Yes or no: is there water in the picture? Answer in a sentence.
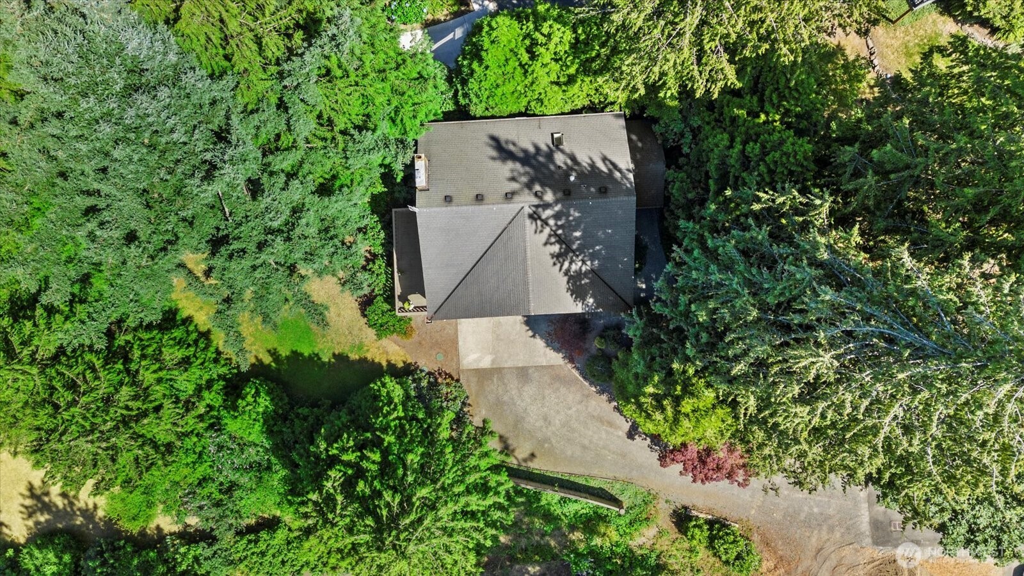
No, the picture contains no water.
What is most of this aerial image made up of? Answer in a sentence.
The bulk of the photo consists of trees.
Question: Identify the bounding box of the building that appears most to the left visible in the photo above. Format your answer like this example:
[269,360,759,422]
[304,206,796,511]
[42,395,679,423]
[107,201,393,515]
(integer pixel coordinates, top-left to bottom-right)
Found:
[415,109,664,325]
